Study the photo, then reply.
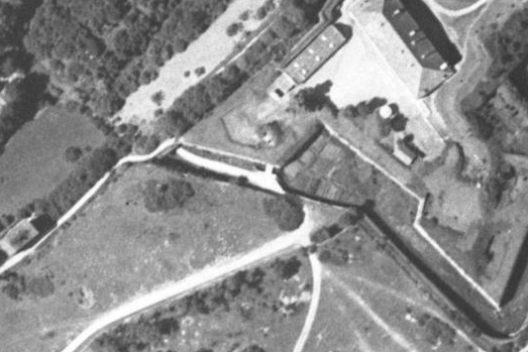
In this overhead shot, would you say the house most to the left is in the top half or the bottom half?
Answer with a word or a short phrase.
bottom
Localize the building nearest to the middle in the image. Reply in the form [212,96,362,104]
[270,73,296,99]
